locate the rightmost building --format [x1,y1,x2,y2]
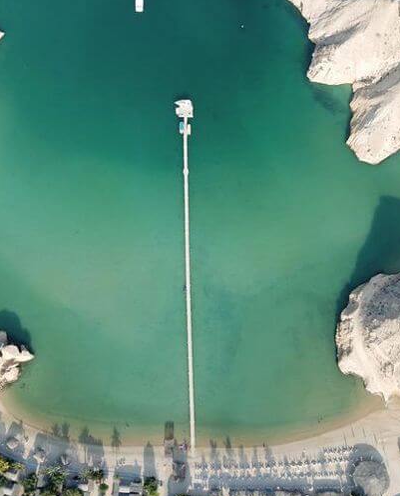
[353,463,389,496]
